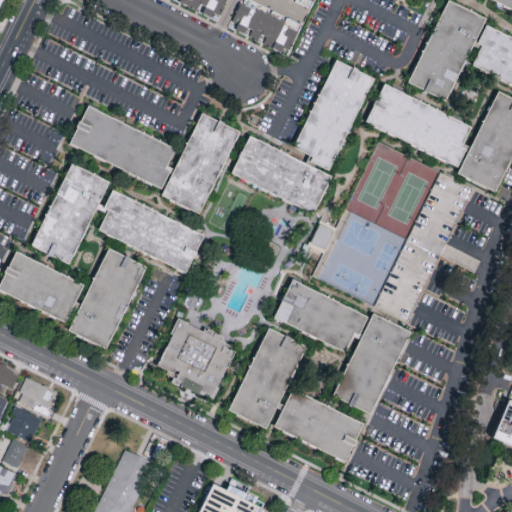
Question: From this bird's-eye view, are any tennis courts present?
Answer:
Yes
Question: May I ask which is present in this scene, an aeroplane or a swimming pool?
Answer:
swimming pool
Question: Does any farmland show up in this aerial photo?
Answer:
No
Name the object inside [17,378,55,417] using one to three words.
house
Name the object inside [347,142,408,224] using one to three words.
tennis court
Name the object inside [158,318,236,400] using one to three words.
building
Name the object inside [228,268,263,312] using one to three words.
swimming pool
